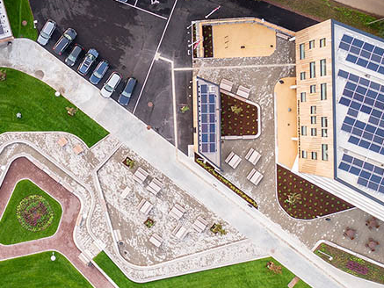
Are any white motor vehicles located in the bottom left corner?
No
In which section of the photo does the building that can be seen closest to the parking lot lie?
center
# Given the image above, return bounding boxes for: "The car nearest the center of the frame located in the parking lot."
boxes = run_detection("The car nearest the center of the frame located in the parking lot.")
[118,76,138,105]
